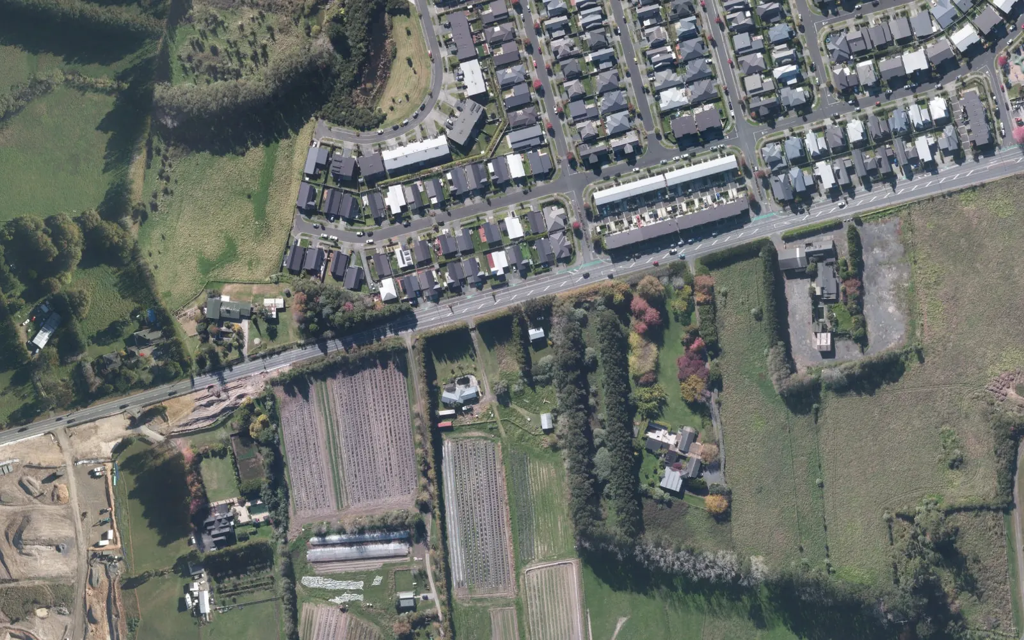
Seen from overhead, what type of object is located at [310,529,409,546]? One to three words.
greenhouse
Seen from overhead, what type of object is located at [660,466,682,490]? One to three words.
shed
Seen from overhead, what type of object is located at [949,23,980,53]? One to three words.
house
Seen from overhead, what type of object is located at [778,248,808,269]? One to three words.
building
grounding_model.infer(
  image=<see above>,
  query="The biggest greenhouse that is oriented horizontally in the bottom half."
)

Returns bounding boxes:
[307,541,409,564]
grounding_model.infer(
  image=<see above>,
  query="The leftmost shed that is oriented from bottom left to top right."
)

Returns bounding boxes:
[33,315,59,346]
